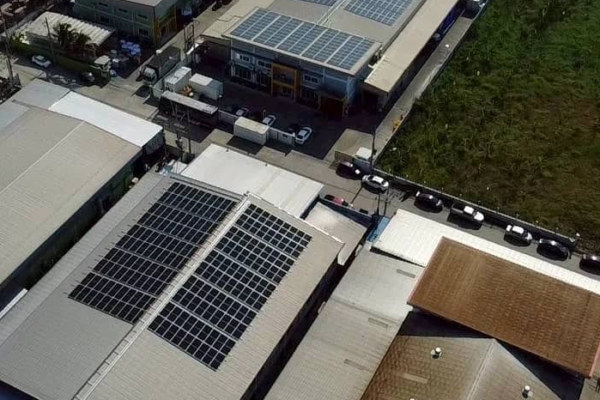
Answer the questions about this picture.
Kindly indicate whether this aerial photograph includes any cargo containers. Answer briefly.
Yes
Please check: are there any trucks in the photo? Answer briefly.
Yes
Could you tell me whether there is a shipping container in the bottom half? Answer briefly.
No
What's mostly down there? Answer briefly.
buildings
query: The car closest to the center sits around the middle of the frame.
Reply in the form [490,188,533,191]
[320,190,346,207]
